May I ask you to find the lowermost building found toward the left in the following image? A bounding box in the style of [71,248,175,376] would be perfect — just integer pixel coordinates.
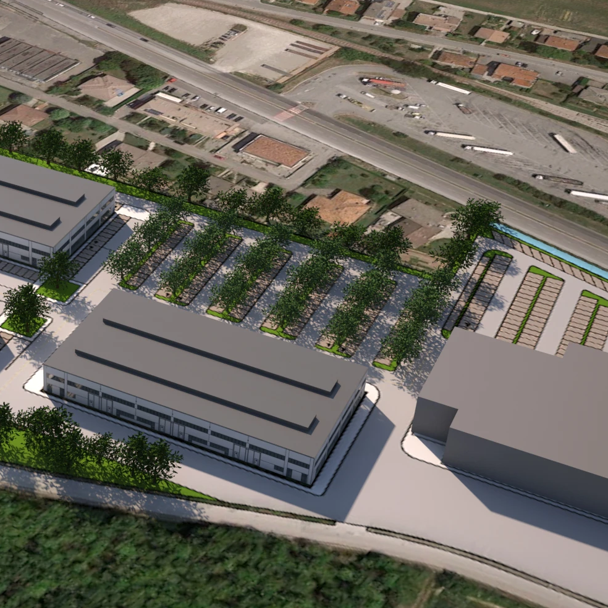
[42,288,368,485]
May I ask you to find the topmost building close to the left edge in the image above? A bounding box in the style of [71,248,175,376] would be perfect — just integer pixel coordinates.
[0,38,82,87]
